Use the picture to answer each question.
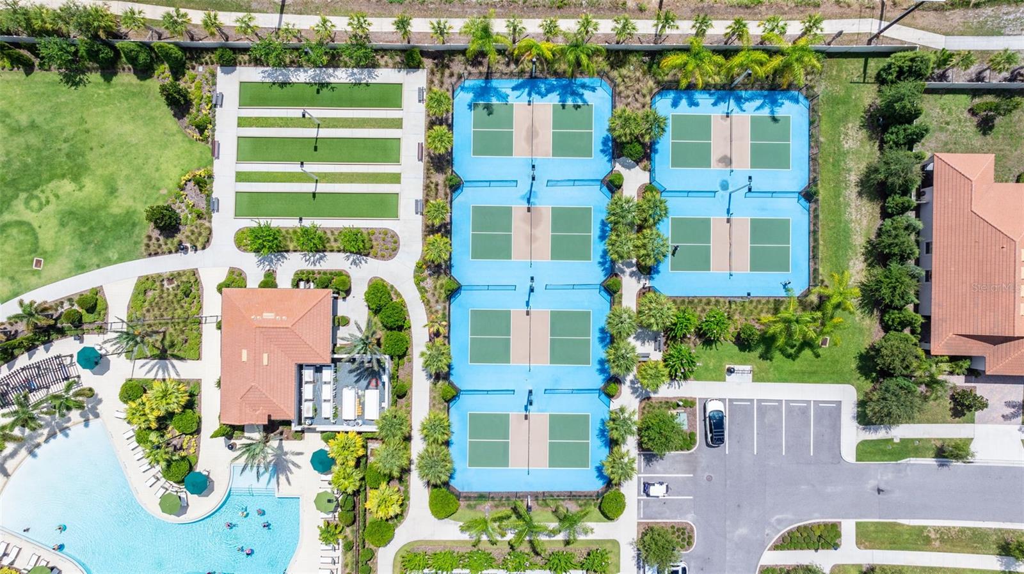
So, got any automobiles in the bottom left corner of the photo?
No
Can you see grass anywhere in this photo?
Yes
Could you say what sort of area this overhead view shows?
sports ground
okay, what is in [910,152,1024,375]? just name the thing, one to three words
house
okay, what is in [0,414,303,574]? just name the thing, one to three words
swimming pool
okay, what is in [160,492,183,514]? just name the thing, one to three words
umbrella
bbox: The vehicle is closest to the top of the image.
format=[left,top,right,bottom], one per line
[703,399,727,446]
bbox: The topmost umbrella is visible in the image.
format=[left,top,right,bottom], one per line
[78,346,104,369]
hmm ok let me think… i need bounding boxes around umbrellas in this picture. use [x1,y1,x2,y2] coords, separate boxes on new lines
[78,346,104,369]
[186,471,209,494]
[160,492,183,514]
[311,449,334,472]
[315,490,338,513]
